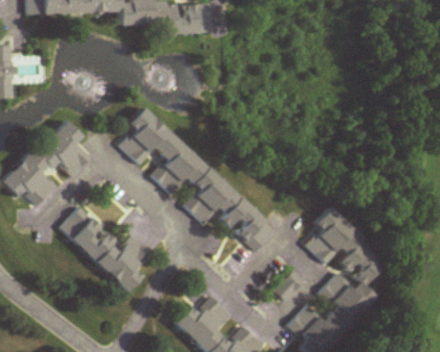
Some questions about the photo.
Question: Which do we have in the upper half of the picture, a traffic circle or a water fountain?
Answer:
water fountain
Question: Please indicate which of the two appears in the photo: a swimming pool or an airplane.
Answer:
swimming pool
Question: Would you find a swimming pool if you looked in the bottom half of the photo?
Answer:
No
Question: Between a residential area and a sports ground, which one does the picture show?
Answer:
residential area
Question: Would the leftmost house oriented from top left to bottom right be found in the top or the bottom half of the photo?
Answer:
bottom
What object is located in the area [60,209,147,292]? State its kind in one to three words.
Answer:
house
